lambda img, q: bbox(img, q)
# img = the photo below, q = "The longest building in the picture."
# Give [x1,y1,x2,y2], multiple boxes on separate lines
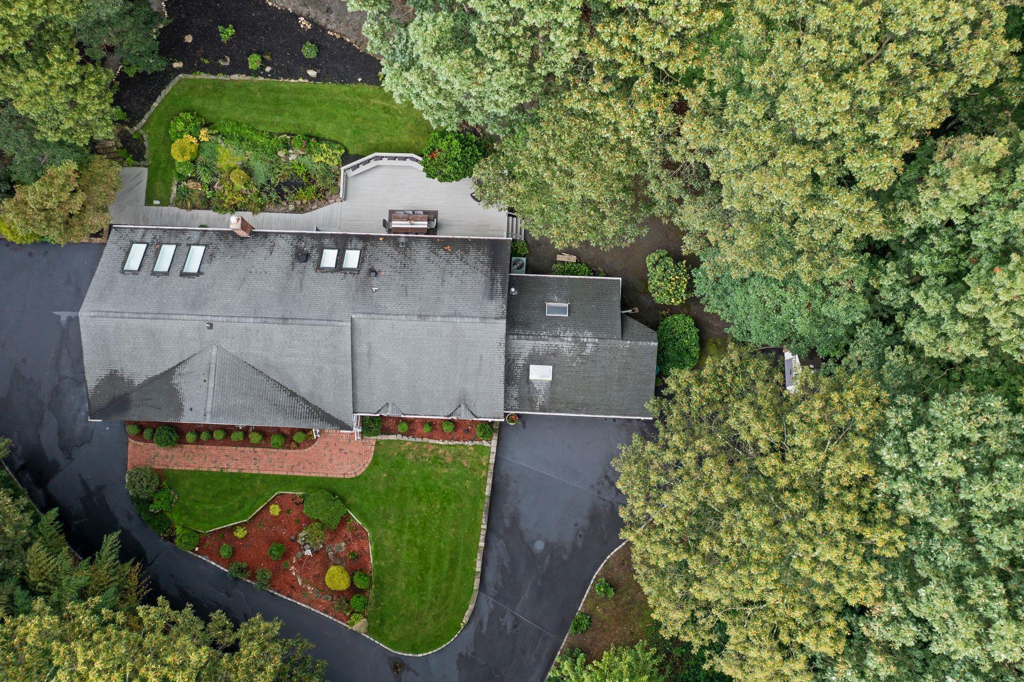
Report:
[79,215,658,432]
